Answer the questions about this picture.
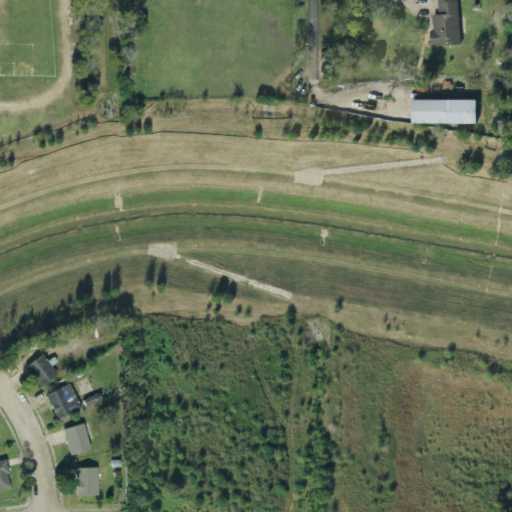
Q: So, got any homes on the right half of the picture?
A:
Yes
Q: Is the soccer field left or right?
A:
left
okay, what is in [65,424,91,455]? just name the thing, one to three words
house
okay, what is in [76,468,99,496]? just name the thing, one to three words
house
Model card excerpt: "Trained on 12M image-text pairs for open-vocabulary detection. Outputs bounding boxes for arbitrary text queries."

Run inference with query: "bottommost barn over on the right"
[412,98,482,124]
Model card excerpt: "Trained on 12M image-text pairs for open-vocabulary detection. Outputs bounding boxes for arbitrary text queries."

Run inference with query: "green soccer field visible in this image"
[0,0,56,76]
